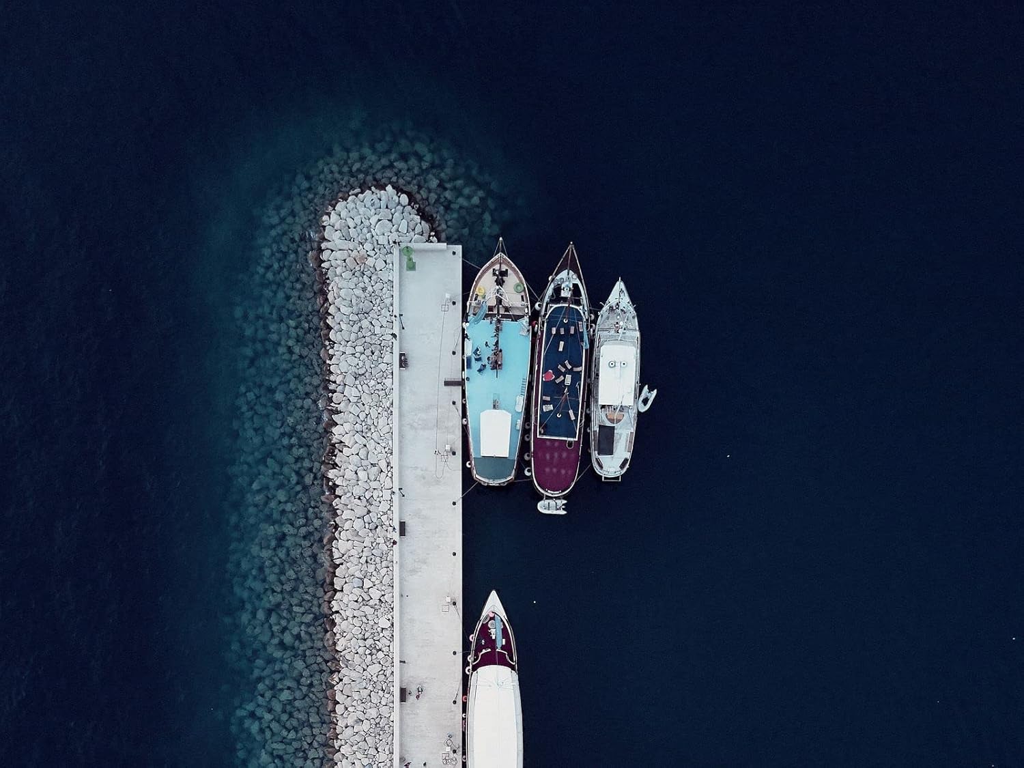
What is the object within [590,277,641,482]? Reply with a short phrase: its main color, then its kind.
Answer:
white boat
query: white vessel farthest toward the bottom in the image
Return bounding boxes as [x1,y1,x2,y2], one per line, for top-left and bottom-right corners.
[466,590,524,768]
